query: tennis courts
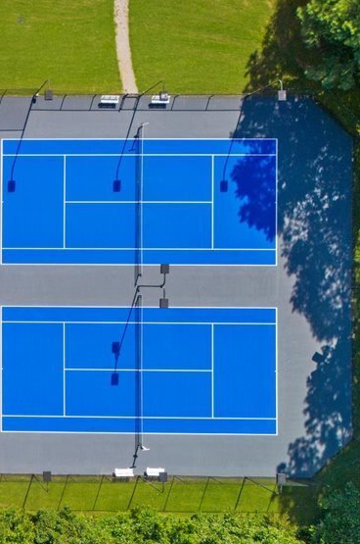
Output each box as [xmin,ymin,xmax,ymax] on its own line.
[1,306,279,436]
[2,139,279,266]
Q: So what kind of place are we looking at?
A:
sports ground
